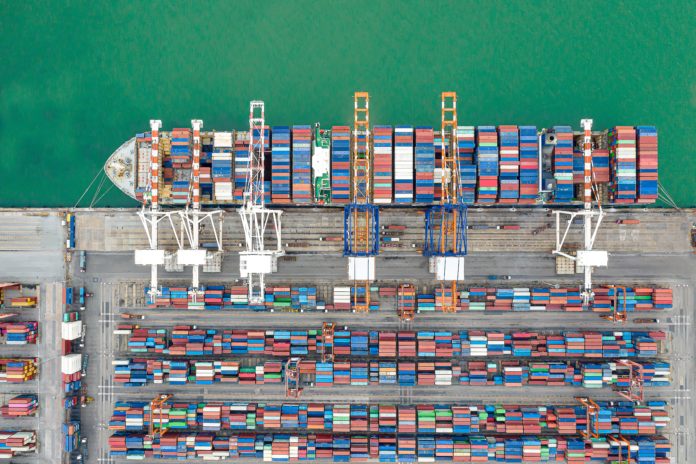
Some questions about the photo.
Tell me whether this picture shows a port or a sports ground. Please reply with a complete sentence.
It's a port.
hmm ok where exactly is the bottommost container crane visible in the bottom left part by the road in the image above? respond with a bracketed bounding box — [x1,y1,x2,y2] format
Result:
[150,389,178,438]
